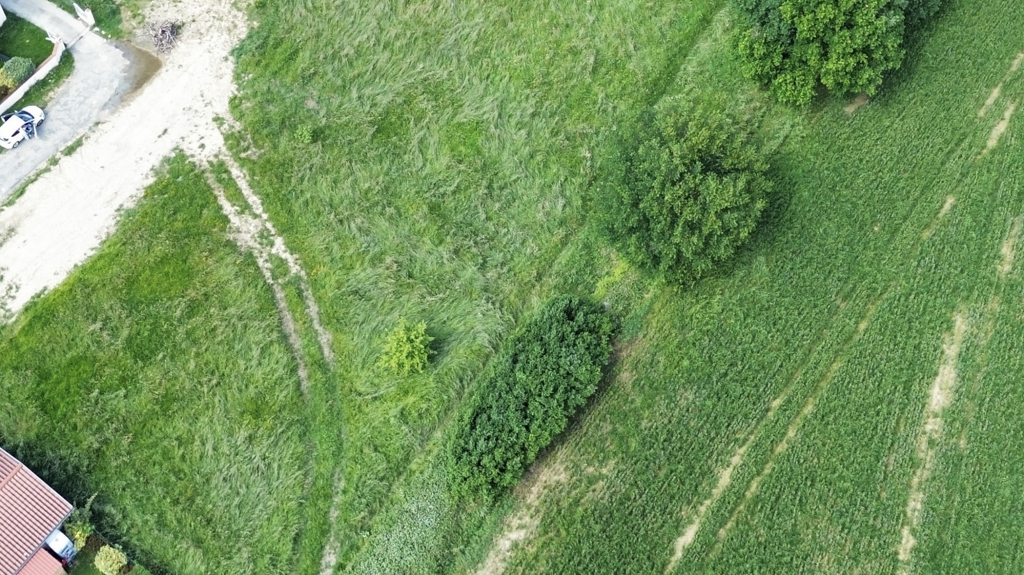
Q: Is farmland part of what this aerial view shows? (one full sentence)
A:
Yes, some farmland is visible.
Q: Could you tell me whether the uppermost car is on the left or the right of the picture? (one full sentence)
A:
The uppermost car is on the left side of the image.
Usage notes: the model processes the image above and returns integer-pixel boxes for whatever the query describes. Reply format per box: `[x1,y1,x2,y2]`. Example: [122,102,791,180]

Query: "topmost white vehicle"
[0,104,46,149]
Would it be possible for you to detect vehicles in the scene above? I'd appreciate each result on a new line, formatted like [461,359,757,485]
[45,531,80,563]
[0,104,46,149]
